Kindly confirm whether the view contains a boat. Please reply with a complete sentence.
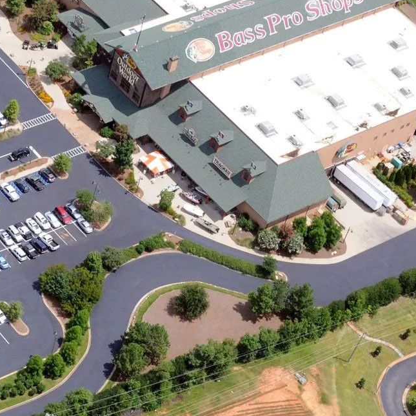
Yes, a boat can be made out from above.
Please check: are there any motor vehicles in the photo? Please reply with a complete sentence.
Yes, the image includes a motor vehicle.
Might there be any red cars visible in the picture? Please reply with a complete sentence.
Yes, you can see a red car in this photo.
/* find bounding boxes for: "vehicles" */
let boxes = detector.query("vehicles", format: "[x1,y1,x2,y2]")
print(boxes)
[0,311,8,326]
[20,240,41,260]
[6,223,24,242]
[14,220,35,240]
[9,242,27,262]
[10,148,30,160]
[0,254,9,270]
[40,232,61,252]
[30,234,49,253]
[0,110,8,127]
[1,181,21,202]
[22,40,30,49]
[44,211,61,228]
[24,217,42,235]
[77,217,94,234]
[24,171,45,192]
[13,176,30,195]
[0,228,15,246]
[41,167,58,184]
[31,42,38,50]
[64,203,82,220]
[55,205,72,225]
[34,211,51,230]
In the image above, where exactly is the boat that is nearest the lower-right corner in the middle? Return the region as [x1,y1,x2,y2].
[195,218,221,233]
